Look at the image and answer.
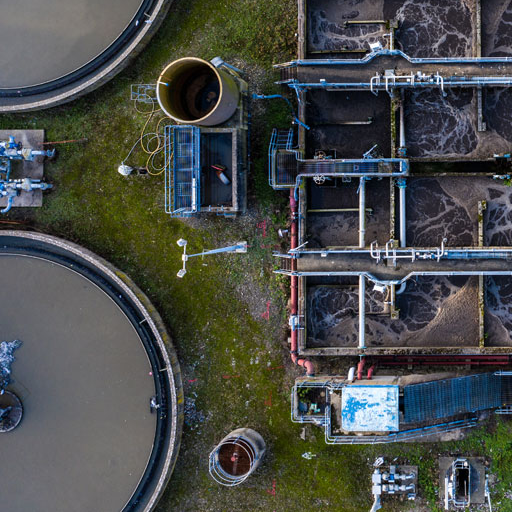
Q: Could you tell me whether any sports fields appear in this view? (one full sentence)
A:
No, the frame has no sports field in it.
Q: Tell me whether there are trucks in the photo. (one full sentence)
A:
No, the scene contains no truck.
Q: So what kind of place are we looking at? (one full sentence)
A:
The picture captures an industrial area.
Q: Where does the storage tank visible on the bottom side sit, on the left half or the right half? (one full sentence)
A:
The storage tank visible on the bottom side appears in the left half of the scene.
